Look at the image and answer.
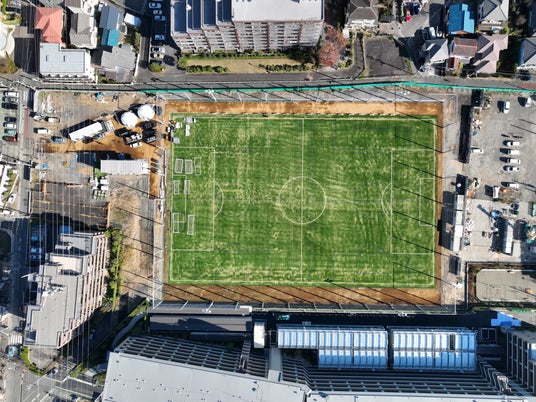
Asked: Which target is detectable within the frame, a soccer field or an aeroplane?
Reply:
soccer field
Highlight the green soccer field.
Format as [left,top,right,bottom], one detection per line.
[163,100,442,305]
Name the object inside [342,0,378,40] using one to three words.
house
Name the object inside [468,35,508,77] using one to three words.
house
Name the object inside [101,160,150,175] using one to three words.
building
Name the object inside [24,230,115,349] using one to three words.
building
